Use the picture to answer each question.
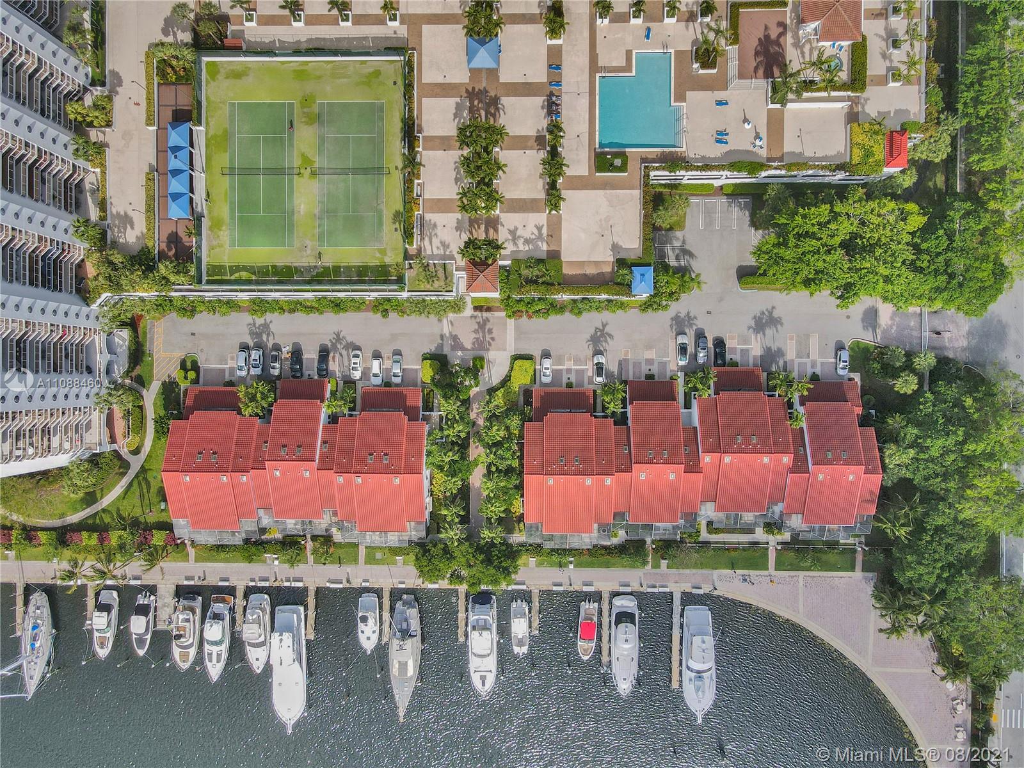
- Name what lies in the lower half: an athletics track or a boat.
boat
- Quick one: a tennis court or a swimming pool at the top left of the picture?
tennis court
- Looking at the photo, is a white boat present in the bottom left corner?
Yes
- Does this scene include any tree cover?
Yes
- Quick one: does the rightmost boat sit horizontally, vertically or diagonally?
vertically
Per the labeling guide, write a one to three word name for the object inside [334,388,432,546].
house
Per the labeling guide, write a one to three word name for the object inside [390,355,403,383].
vehicle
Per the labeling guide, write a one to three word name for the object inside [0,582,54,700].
boat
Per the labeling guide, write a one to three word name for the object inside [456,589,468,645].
pier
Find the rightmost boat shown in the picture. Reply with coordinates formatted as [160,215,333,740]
[683,604,726,734]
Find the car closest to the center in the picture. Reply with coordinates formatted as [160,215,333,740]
[540,355,553,383]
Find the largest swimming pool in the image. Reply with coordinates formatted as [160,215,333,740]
[596,46,688,150]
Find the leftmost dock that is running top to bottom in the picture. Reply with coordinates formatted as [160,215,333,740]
[9,584,30,640]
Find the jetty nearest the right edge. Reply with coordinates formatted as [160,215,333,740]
[669,590,684,691]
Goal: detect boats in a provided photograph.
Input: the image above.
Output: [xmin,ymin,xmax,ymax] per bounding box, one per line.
[120,586,158,665]
[85,585,129,661]
[389,586,421,728]
[578,601,599,661]
[270,600,309,742]
[469,593,501,698]
[510,600,529,657]
[201,590,235,684]
[683,604,726,734]
[171,590,208,672]
[611,593,640,698]
[346,585,383,672]
[0,582,54,700]
[237,589,273,678]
